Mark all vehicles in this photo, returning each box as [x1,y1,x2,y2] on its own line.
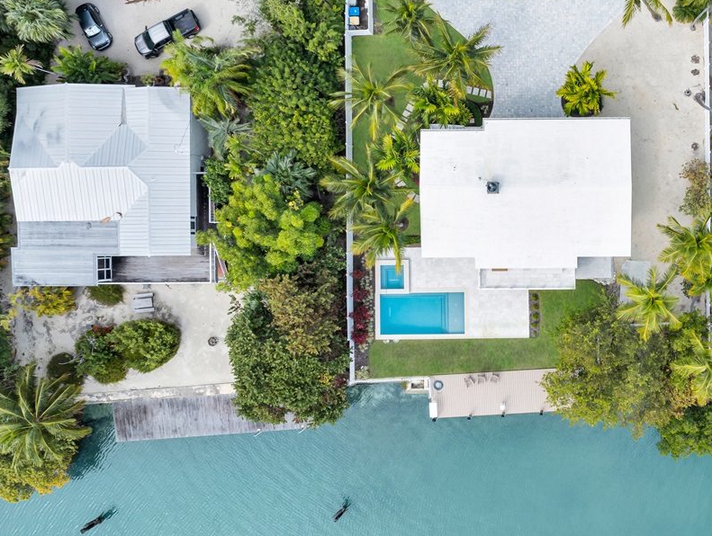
[132,3,203,58]
[70,1,112,52]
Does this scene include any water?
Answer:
Yes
